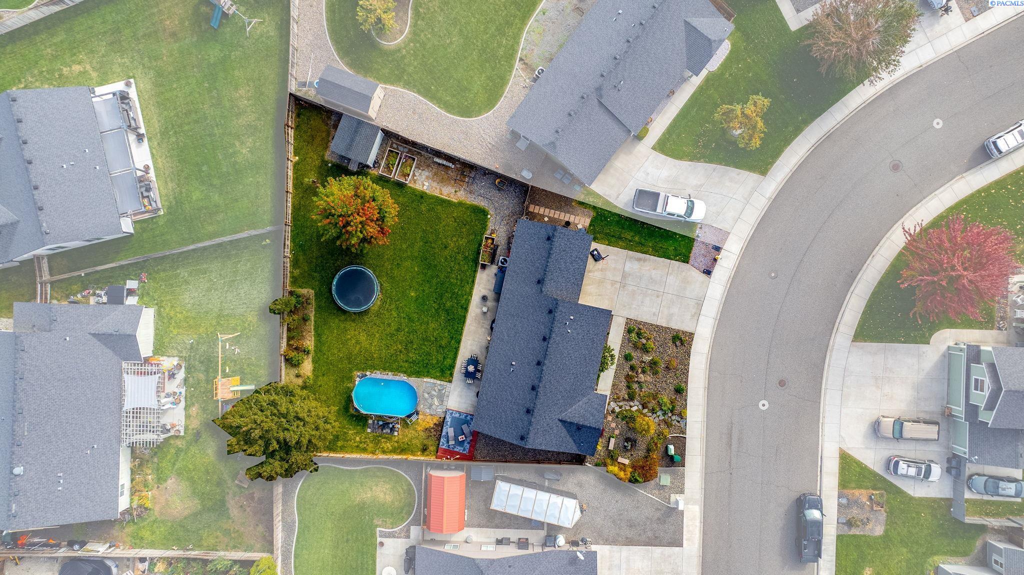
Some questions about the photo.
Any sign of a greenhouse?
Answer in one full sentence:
Yes, I can see a greenhouse in this picture.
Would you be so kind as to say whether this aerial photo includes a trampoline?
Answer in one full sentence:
Yes, I can see a trampoline in this picture.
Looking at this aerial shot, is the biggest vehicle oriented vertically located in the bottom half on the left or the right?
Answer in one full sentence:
It is on the right.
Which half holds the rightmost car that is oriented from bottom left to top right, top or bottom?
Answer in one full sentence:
It is in the top half that the rightmost car that is oriented from bottom left to top right appears.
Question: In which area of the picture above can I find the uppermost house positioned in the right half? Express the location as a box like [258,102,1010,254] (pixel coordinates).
[507,0,735,186]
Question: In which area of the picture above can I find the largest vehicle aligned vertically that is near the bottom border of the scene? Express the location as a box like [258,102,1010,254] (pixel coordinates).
[793,491,827,567]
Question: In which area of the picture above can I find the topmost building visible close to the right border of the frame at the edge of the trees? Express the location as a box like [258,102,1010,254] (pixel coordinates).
[948,345,1024,466]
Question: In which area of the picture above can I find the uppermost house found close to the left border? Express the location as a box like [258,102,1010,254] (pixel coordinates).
[0,86,134,266]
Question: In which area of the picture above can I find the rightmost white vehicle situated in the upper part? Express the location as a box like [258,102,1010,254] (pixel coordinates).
[977,118,1024,161]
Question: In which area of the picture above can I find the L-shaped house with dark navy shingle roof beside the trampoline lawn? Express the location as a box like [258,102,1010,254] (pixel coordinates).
[475,220,611,456]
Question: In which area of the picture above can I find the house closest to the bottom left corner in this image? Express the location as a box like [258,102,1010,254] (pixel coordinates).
[0,302,158,531]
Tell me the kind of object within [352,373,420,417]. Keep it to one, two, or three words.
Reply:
swimming pool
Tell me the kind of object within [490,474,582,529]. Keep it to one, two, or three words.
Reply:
greenhouse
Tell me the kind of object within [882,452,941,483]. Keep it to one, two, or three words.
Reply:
car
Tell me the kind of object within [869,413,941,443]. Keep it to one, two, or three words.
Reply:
car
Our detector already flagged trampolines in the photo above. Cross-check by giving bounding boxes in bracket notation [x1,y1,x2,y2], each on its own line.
[328,265,380,311]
